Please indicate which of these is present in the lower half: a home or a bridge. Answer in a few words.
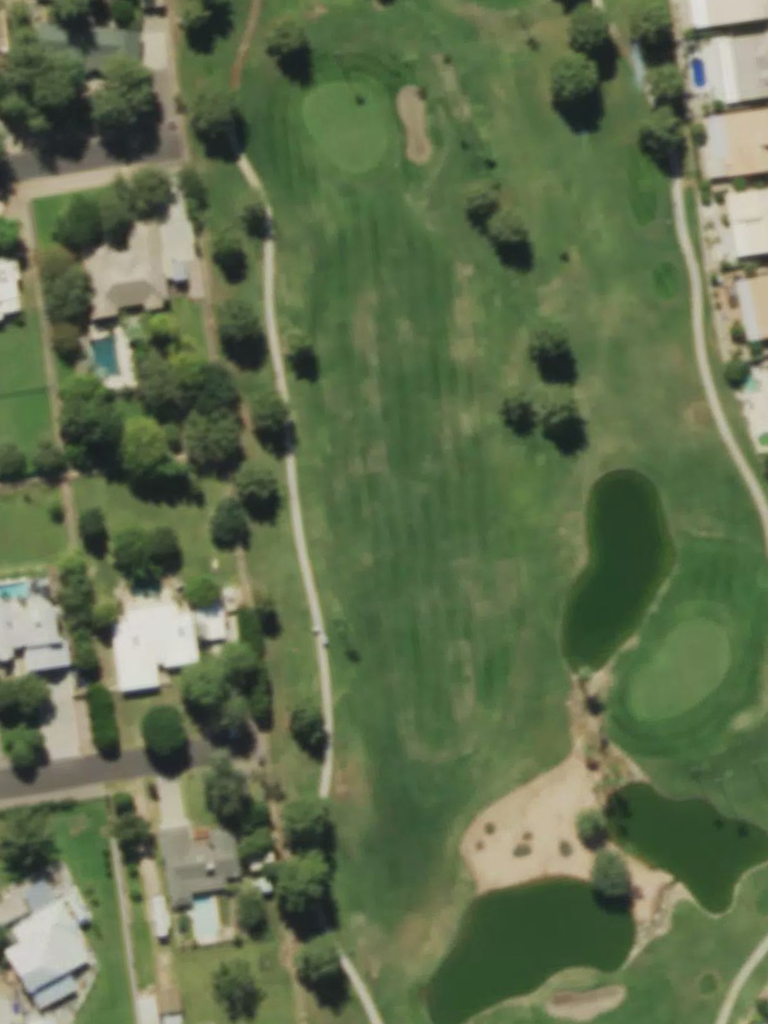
home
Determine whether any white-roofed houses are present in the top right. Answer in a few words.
Yes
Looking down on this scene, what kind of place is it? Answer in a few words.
golf course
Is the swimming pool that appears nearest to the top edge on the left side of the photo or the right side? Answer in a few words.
right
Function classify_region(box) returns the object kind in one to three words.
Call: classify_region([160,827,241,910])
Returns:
house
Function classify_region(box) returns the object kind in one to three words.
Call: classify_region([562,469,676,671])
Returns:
pond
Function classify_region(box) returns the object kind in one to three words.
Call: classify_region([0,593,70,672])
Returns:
house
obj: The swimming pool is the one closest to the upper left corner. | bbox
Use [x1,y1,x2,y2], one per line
[88,334,123,382]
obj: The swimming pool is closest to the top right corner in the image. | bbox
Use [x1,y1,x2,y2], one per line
[688,55,709,90]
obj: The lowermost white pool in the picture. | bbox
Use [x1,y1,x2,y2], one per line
[192,890,224,934]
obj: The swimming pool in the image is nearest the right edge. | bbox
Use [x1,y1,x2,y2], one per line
[739,372,767,395]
